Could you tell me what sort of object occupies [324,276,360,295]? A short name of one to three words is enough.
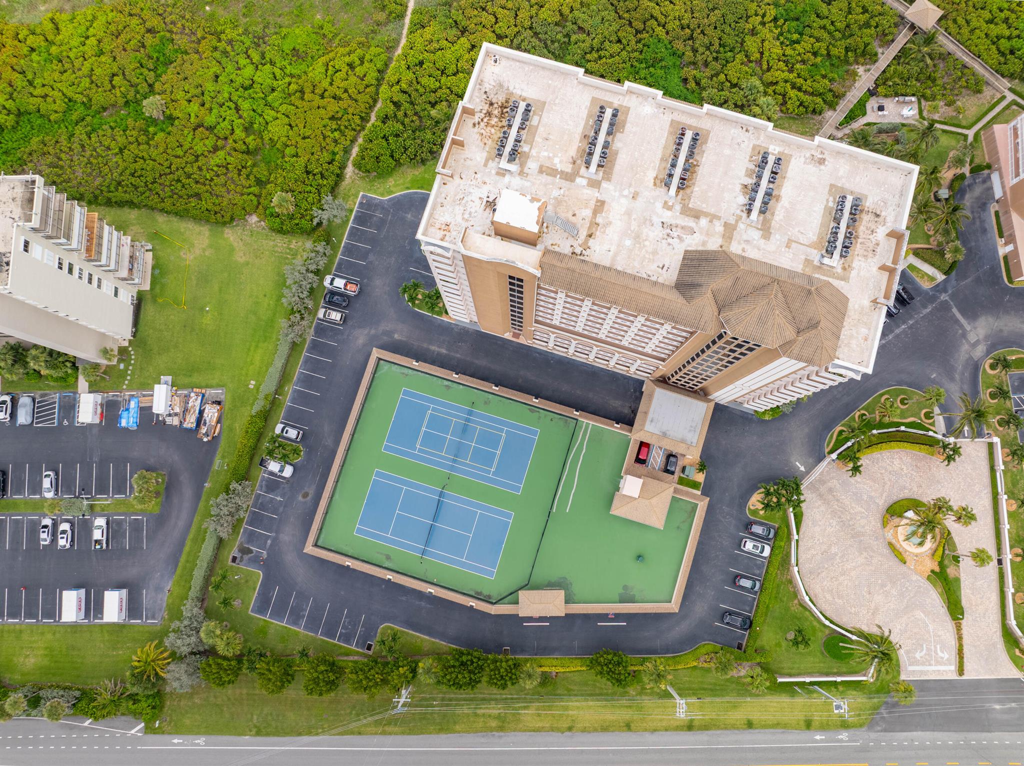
vehicle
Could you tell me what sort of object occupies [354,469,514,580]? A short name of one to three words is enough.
tennis court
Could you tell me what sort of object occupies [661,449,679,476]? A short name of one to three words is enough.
car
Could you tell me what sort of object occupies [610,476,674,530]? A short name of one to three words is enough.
shed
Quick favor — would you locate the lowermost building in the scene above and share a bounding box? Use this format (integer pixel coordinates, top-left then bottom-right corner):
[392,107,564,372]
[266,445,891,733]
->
[519,590,565,617]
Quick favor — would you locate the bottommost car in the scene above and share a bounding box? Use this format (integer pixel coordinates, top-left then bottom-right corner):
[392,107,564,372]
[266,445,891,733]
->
[720,611,752,630]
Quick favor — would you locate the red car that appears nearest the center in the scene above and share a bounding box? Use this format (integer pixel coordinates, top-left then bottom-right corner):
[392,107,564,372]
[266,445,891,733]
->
[634,440,652,467]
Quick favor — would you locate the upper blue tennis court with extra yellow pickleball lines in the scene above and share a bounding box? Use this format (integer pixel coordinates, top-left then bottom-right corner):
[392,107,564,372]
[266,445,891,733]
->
[382,388,540,495]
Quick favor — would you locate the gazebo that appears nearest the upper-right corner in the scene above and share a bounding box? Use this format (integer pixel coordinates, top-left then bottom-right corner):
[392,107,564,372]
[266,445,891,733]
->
[904,0,950,30]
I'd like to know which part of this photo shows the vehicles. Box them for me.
[0,469,9,499]
[91,515,110,553]
[257,456,295,477]
[0,393,15,423]
[322,291,352,308]
[897,283,924,312]
[324,276,360,295]
[275,424,304,441]
[40,469,58,499]
[39,516,56,546]
[732,574,762,592]
[661,449,679,476]
[739,538,771,557]
[720,611,752,630]
[634,440,652,467]
[745,521,776,539]
[57,521,74,551]
[889,303,908,322]
[884,319,897,336]
[317,308,346,325]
